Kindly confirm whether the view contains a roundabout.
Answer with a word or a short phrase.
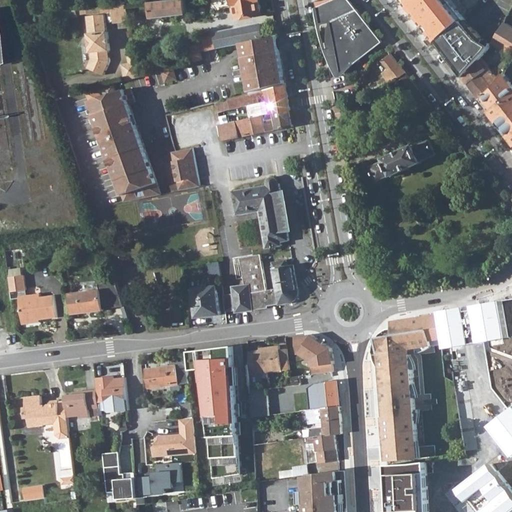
Yes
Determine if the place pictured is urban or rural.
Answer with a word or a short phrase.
urban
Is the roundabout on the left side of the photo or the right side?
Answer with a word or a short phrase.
right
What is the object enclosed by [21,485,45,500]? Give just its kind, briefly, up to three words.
shed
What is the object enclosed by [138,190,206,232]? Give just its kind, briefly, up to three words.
basketball court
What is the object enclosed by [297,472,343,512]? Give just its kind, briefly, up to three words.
building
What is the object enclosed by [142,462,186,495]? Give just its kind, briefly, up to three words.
house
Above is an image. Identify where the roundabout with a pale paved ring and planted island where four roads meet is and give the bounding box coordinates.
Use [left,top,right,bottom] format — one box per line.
[320,281,380,343]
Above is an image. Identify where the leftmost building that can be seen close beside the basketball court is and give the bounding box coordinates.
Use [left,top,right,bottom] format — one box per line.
[84,88,162,206]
